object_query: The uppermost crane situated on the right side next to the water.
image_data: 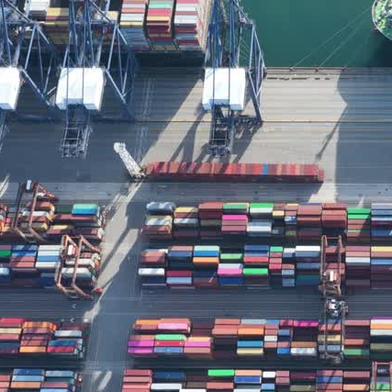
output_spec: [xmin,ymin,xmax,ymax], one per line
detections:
[202,0,269,161]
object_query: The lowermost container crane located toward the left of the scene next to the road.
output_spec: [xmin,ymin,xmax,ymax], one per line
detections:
[55,237,99,301]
